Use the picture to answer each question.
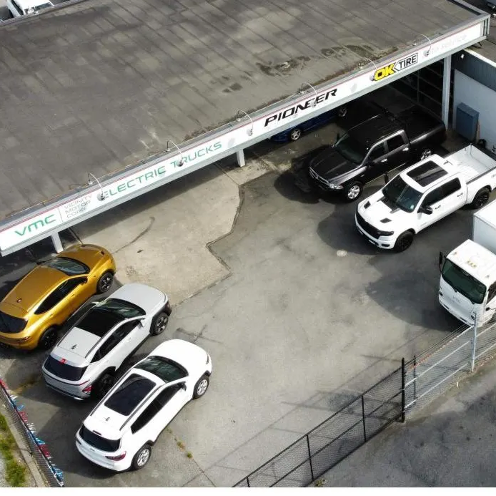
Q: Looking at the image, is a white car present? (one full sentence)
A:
Yes, the photo shows a white car.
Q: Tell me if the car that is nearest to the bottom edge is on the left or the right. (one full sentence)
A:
It is on the left.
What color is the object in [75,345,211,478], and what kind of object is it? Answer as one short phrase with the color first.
white car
